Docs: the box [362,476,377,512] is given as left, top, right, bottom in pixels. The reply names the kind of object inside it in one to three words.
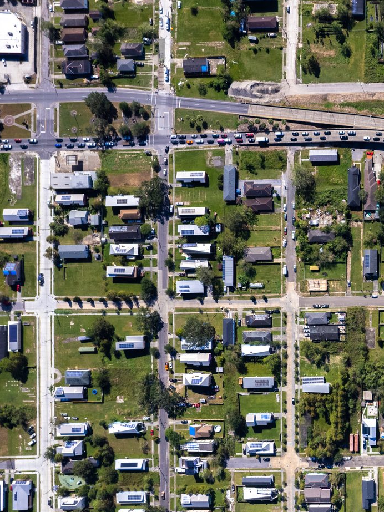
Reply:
house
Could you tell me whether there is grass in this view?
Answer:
Yes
